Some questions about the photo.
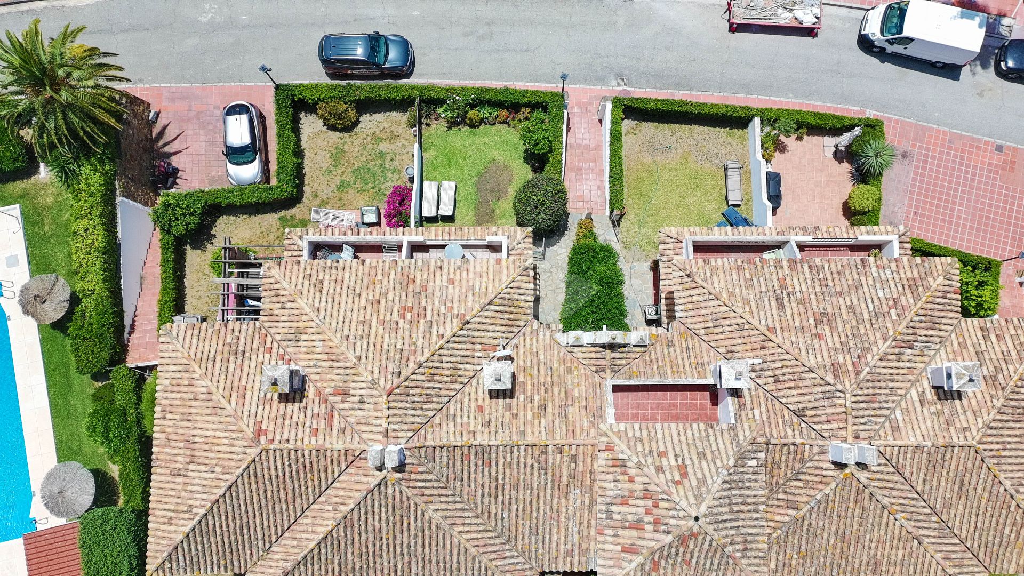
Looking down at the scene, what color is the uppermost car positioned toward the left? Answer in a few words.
blue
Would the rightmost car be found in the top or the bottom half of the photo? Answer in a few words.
top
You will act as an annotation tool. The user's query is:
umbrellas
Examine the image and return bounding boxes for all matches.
[18,272,74,327]
[35,461,94,522]
[823,118,871,158]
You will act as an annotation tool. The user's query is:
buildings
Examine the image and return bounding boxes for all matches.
[139,226,607,576]
[21,518,87,576]
[657,225,1024,576]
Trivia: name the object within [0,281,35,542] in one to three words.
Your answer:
swimming pool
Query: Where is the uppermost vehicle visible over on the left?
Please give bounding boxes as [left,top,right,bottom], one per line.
[317,30,415,81]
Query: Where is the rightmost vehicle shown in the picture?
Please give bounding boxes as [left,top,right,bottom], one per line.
[991,44,1024,89]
